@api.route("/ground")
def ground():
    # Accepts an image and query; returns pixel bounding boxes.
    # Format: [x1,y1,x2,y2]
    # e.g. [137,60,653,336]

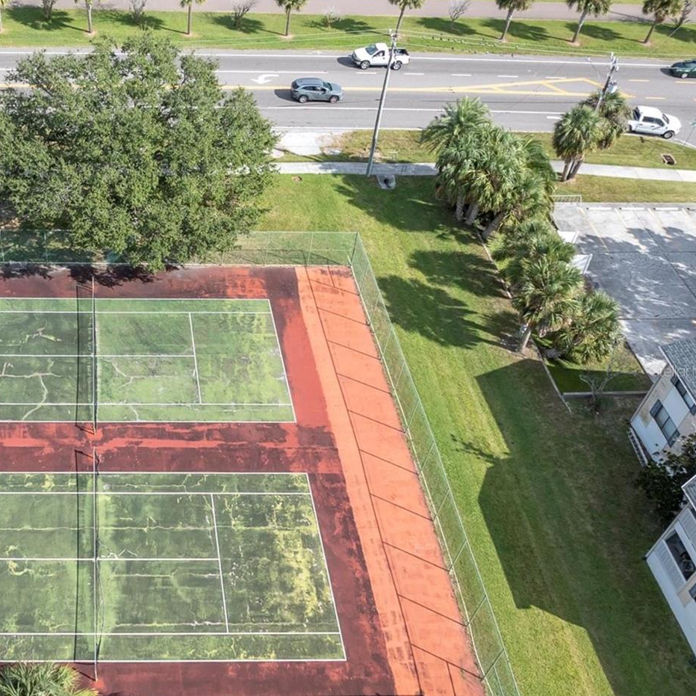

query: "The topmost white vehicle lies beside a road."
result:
[348,42,411,70]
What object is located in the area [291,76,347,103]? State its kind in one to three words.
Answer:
car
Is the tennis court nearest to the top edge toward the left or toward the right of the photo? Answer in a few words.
left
